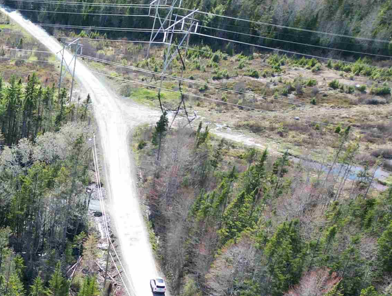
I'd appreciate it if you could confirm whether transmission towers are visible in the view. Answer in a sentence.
Yes, the frame does contain a transmission tower.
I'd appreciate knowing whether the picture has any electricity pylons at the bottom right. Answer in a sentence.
No, there is no electricity pylon at the bottom right.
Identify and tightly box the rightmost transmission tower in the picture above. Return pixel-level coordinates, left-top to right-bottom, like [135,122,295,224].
[161,7,195,90]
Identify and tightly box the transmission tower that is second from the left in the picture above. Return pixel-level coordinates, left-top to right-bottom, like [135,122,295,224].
[146,0,173,58]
